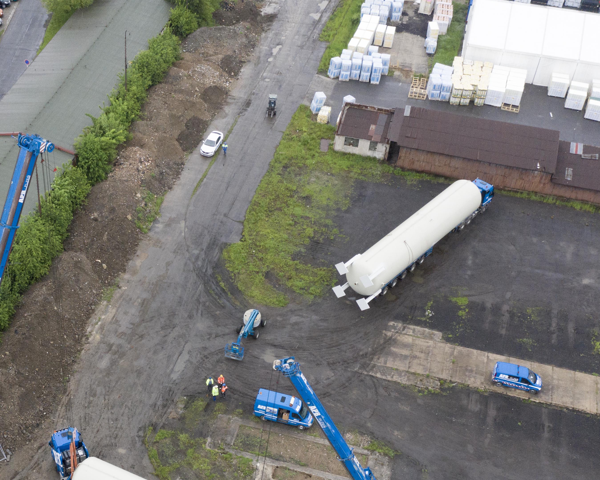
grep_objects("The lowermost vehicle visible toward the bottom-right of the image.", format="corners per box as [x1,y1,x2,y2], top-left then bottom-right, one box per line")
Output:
[491,362,541,396]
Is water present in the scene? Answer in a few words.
No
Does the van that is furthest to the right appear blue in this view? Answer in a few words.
Yes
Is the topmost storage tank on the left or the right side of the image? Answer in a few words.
right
